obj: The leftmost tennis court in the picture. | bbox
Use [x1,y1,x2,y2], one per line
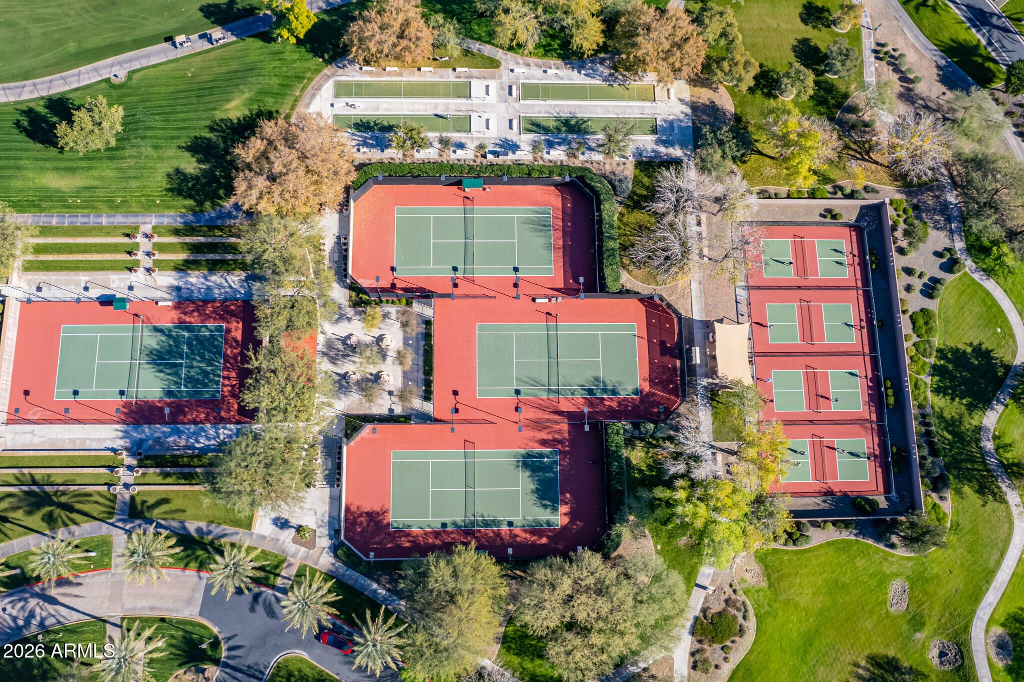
[5,300,261,424]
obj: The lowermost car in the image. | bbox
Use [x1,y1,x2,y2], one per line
[320,630,354,659]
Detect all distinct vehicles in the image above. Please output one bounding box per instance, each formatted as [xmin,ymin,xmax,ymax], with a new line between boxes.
[176,34,193,51]
[320,630,354,659]
[211,30,228,47]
